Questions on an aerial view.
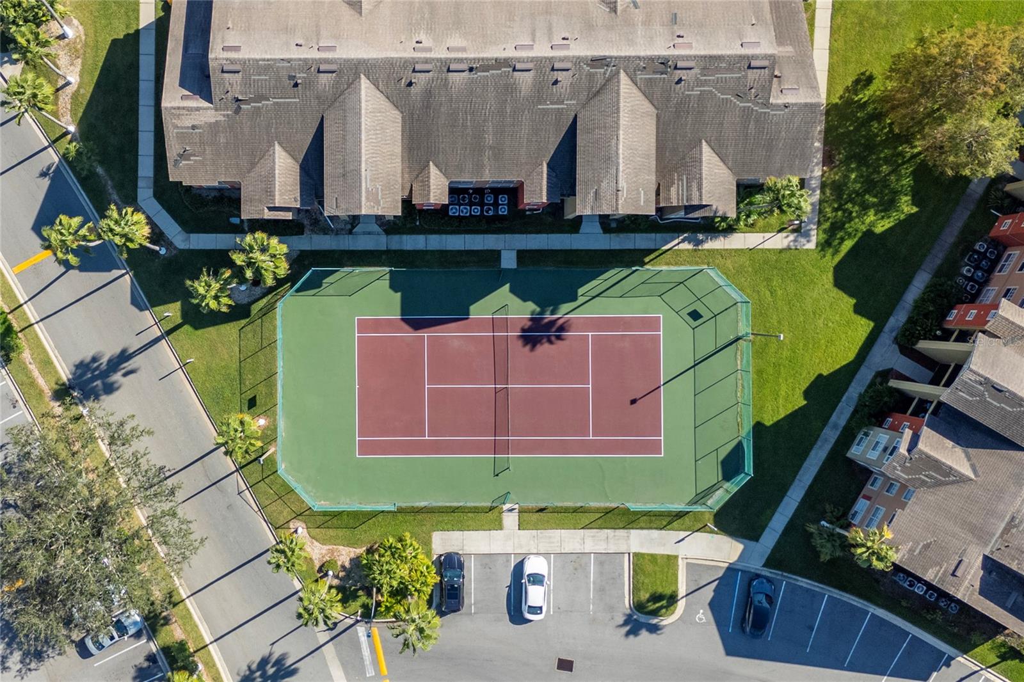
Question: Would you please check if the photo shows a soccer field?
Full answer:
No, no soccer field is visible in the view.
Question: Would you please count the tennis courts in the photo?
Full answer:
My tally gives 1 tennis court in this photo.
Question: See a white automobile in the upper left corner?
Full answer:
No, I see no white automobile in the upper left corner.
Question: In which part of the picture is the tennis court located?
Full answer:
Look in the center portion of the view to spot the tennis court.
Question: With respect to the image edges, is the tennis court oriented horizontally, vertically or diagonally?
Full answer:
Seen from above, the tennis court lies horizontally.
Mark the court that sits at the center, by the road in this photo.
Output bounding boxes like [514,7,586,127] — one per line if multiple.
[282,269,741,503]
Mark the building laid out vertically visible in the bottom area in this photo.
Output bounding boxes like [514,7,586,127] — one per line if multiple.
[833,190,1024,641]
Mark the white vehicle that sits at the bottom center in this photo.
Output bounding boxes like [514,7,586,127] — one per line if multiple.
[522,556,551,622]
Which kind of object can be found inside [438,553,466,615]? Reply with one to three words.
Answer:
car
